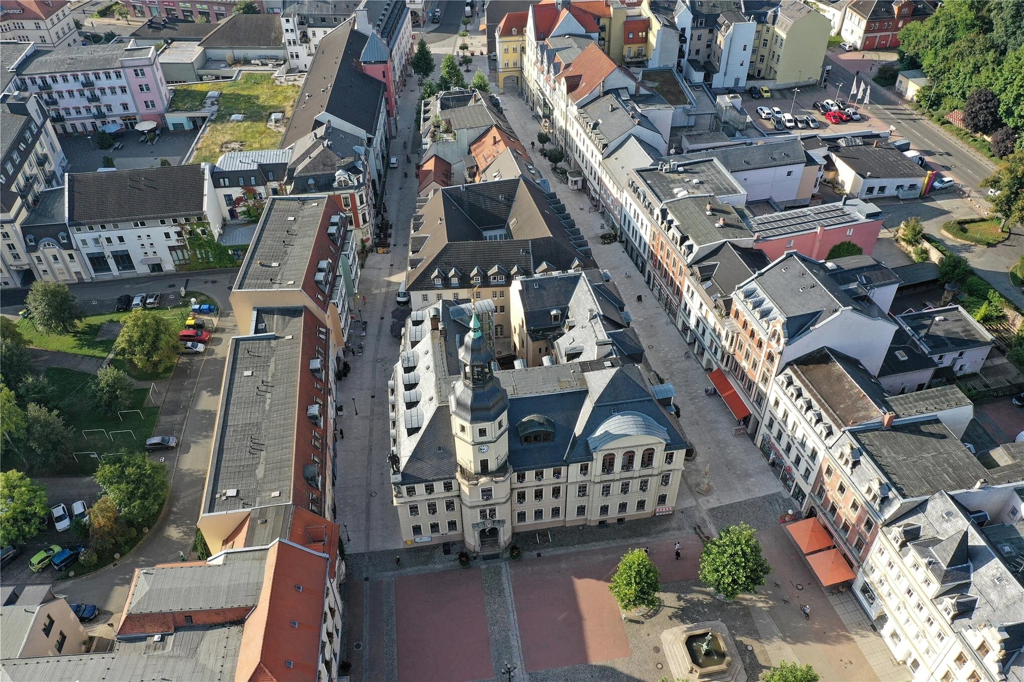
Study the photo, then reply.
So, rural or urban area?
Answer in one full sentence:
This place is urban.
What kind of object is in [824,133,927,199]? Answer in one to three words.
building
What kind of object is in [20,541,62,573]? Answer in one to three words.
car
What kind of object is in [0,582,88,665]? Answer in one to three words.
house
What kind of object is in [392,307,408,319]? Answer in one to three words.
umbrella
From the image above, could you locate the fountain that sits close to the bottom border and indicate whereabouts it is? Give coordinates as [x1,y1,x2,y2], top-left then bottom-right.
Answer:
[663,612,752,682]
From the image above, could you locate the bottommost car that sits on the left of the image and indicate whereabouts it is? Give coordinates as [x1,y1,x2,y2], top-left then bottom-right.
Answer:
[65,597,103,619]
